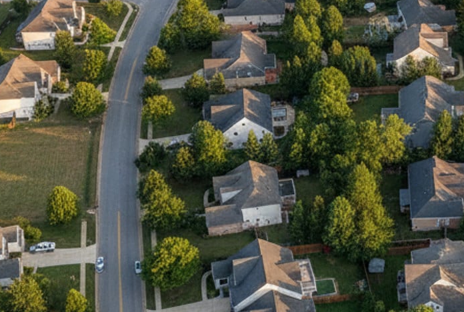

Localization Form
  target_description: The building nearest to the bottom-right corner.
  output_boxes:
[404,246,464,312]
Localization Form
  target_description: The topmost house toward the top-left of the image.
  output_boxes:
[20,0,93,48]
